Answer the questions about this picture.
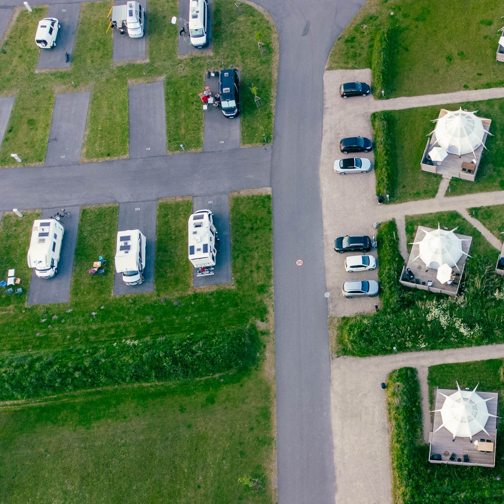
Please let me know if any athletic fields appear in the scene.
Yes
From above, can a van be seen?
Yes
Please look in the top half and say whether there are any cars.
Yes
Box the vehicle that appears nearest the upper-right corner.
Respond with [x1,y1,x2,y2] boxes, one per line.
[339,82,370,100]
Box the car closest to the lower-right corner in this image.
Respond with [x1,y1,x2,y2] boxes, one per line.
[343,278,379,298]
